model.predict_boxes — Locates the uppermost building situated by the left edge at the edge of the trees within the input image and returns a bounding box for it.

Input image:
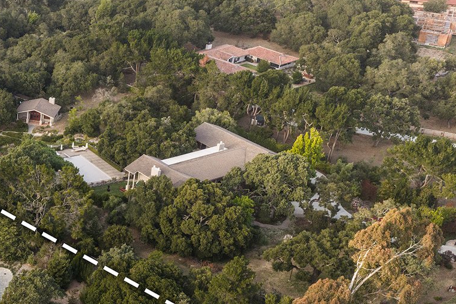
[19,95,59,128]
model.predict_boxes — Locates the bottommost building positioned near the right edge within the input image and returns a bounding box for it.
[399,19,456,47]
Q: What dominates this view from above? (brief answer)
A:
trees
